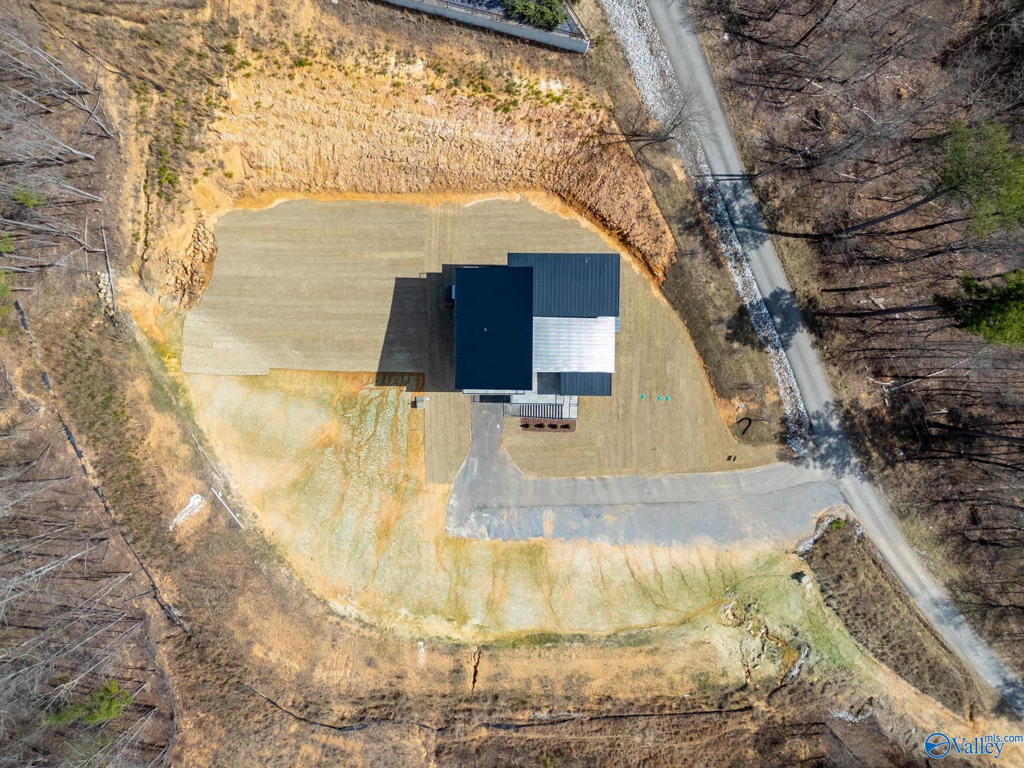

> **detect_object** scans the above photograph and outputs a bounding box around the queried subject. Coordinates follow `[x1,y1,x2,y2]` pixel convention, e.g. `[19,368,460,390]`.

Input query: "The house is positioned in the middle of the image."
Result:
[453,252,622,419]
